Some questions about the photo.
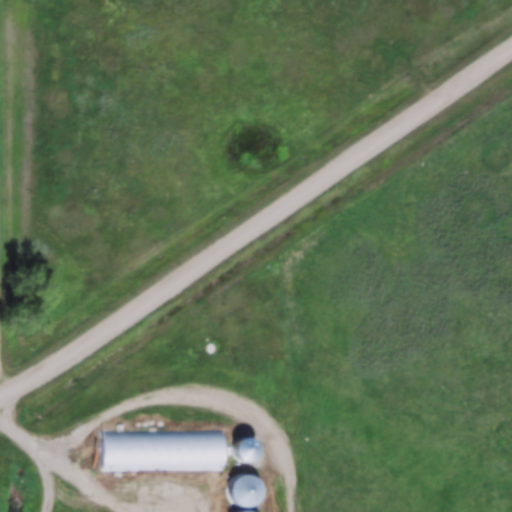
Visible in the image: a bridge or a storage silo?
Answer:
storage silo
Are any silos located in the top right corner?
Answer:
No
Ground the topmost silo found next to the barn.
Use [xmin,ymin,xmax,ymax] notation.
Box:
[232,436,264,464]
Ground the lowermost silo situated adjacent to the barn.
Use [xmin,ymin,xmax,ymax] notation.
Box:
[228,472,266,510]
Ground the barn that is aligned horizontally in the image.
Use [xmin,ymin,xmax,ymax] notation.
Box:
[101,431,228,472]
